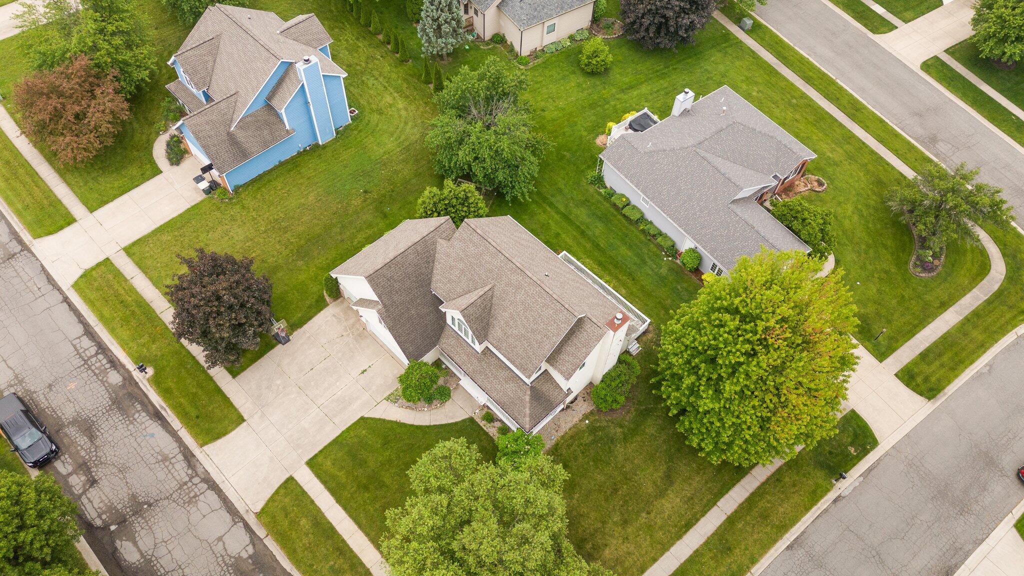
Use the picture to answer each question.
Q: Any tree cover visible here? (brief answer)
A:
Yes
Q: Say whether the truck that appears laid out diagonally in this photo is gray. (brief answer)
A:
Yes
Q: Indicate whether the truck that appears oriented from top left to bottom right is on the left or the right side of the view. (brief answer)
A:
left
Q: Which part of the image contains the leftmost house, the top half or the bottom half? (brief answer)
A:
top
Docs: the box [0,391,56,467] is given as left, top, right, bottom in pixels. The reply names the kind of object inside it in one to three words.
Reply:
truck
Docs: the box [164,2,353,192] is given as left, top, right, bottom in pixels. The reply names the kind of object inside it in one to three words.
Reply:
house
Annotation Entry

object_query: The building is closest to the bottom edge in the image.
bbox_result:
[329,215,651,437]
